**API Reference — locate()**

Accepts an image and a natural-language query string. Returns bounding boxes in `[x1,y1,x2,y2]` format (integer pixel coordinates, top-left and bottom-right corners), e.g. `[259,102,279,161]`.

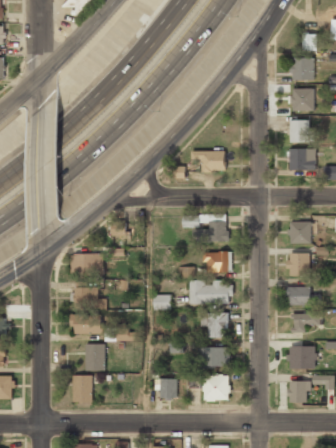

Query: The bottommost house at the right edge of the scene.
[290,376,335,404]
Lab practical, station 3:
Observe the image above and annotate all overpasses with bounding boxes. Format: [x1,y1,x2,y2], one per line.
[18,70,66,256]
